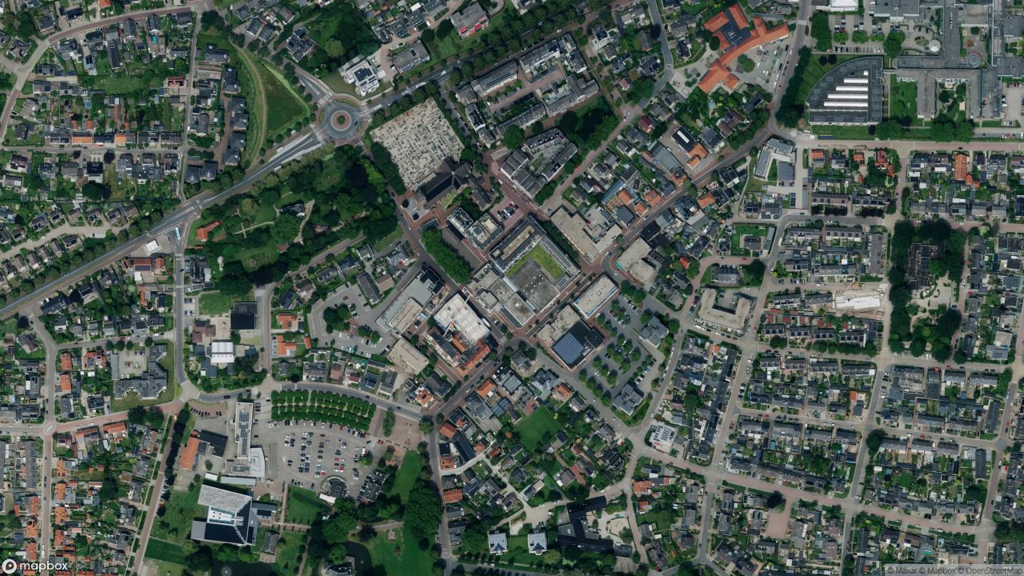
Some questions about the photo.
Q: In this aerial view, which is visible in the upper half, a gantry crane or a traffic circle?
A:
traffic circle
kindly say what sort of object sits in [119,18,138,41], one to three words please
house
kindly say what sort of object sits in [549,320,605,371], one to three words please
building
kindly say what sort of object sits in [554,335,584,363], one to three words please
solar array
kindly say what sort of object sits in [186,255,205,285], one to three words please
building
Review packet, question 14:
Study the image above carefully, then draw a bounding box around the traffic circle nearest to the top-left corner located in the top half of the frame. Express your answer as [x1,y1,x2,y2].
[316,95,366,145]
